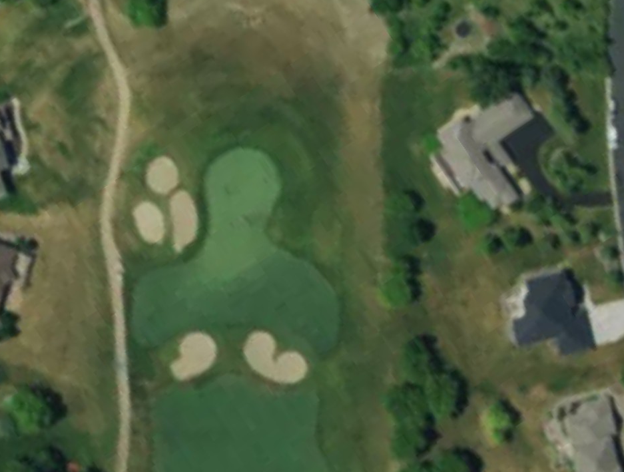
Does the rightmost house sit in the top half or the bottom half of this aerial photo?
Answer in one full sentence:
The rightmost house sits in the bottom half of the picture.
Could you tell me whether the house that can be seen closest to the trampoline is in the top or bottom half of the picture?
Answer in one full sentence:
The house that can be seen closest to the trampoline sits in the top half of the picture.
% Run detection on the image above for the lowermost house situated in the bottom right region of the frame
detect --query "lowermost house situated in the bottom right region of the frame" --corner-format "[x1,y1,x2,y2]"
[564,396,624,472]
